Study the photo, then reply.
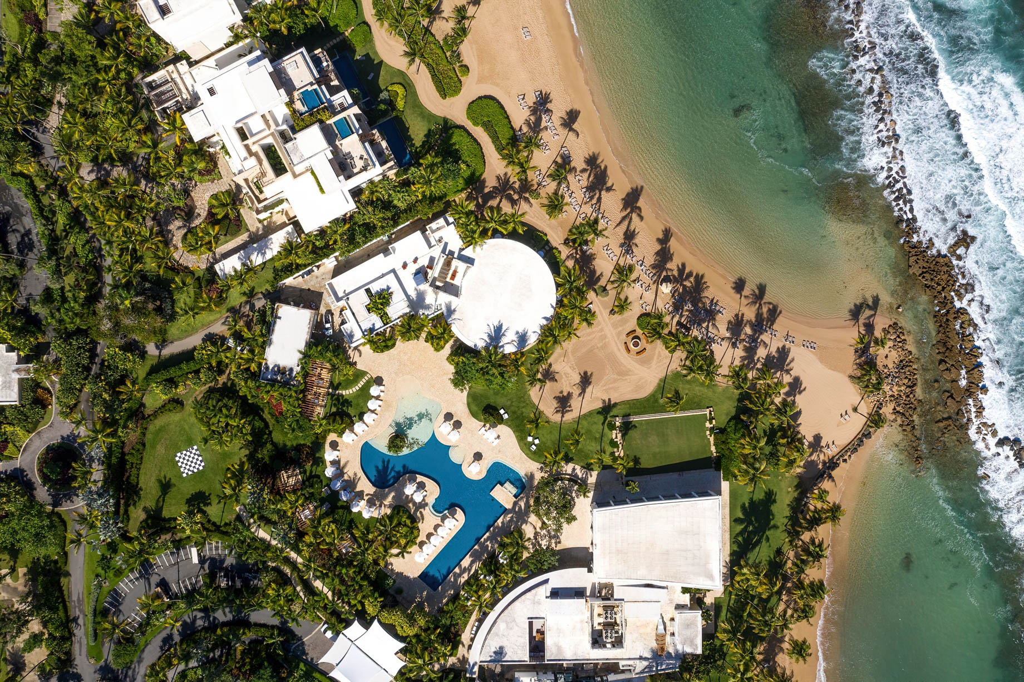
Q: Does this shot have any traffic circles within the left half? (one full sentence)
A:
Yes, the scene does show a traffic circle within the left half.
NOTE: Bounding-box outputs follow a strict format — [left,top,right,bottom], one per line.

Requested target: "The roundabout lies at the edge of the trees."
[18,423,104,509]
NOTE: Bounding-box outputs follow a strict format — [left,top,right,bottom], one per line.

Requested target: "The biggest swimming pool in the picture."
[359,380,528,594]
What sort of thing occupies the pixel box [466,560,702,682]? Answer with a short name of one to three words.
building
